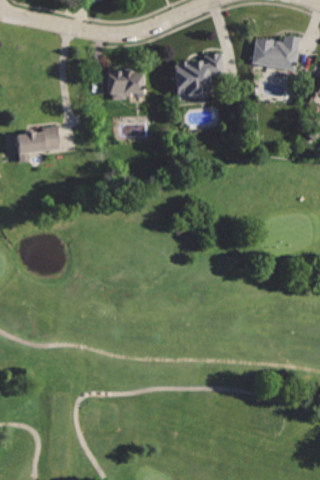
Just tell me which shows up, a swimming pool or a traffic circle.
swimming pool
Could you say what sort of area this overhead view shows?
golf course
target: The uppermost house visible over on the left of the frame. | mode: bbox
[109,72,146,102]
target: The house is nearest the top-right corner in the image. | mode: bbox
[254,36,302,72]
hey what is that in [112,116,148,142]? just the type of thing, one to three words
swimming pool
